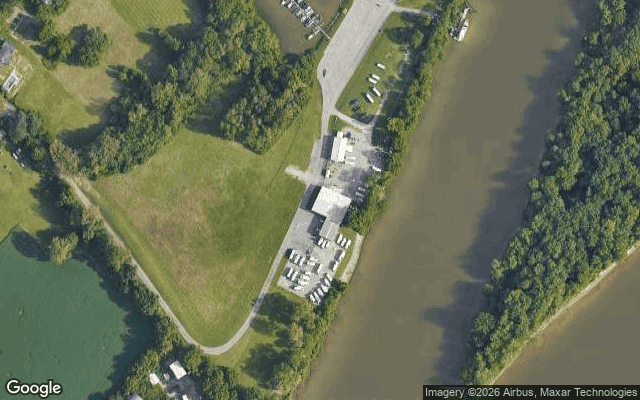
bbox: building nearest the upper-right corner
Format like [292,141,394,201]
[331,131,352,162]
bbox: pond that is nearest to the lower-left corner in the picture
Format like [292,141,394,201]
[0,226,151,400]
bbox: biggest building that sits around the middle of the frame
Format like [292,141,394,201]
[311,186,352,224]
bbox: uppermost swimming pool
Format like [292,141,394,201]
[2,71,21,91]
